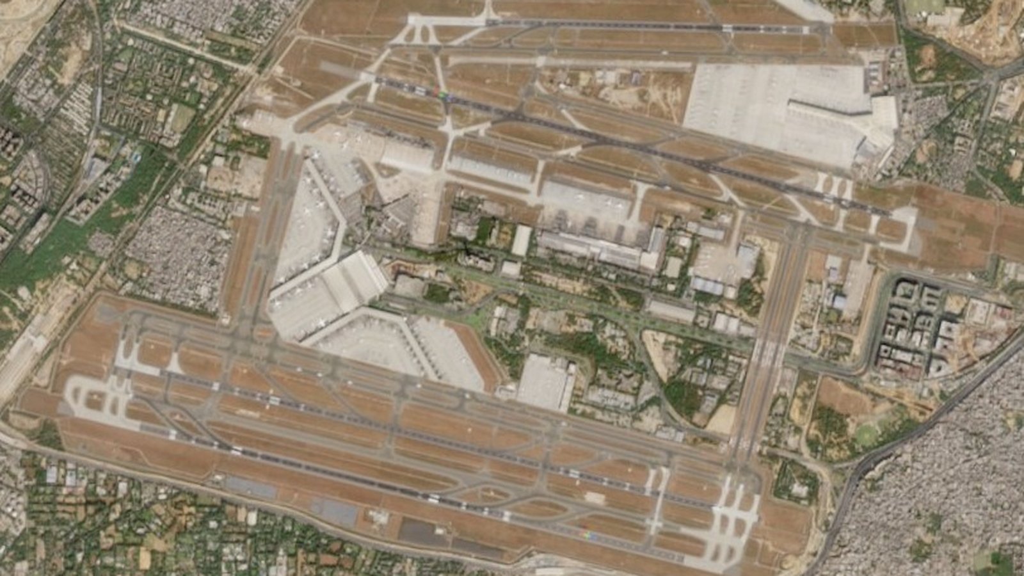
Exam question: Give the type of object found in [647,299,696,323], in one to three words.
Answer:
building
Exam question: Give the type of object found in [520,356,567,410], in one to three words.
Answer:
hangar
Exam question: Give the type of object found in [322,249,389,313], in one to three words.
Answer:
building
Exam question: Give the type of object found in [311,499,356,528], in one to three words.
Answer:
solar array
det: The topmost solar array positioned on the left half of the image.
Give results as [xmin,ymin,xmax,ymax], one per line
[225,477,276,498]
